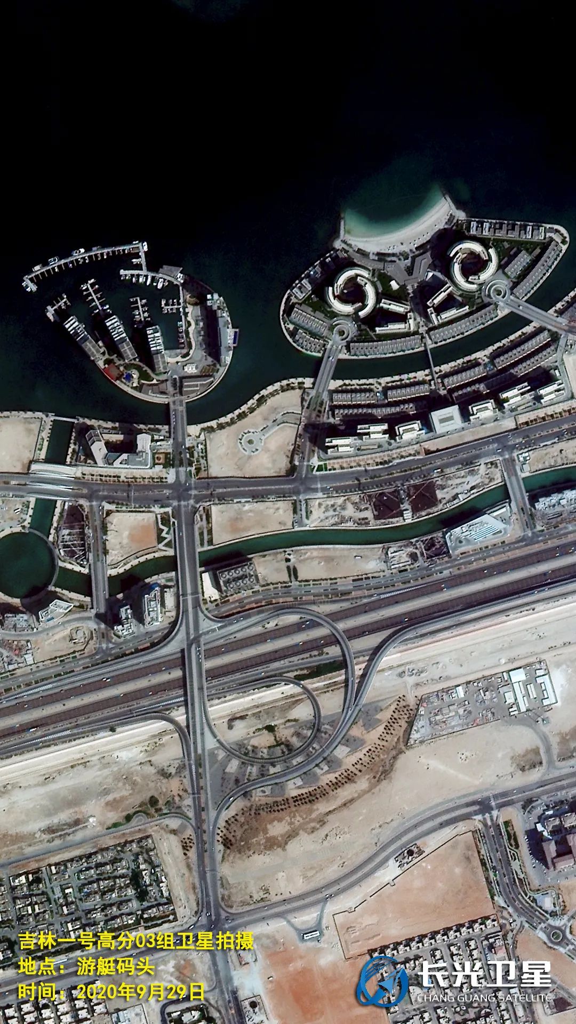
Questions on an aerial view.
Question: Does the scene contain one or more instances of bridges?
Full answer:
Yes, a bridge can be made out from above.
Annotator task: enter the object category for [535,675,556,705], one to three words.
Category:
shed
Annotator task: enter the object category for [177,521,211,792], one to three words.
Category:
bridge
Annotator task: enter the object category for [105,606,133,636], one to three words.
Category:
building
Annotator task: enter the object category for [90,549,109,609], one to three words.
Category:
bridge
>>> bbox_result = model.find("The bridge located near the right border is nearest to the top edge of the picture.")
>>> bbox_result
[501,290,571,335]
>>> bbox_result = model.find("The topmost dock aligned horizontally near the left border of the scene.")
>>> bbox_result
[23,242,148,292]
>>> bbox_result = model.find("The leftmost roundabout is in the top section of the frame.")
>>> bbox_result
[328,318,357,347]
